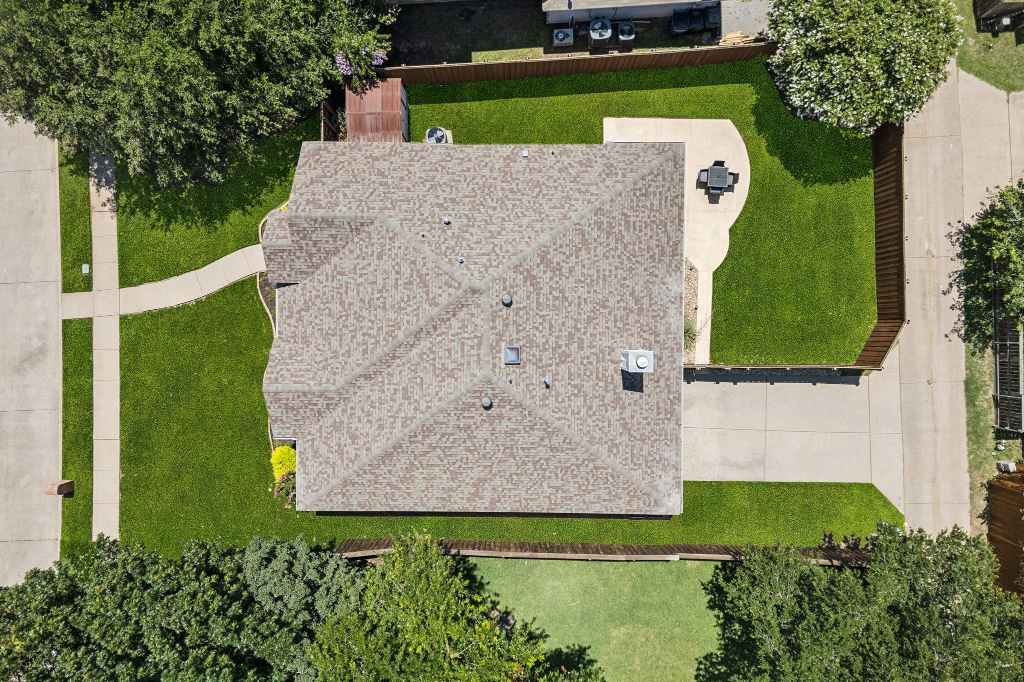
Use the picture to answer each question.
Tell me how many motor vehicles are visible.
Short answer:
0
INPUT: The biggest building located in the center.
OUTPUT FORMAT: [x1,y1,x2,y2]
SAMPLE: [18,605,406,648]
[262,139,687,516]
